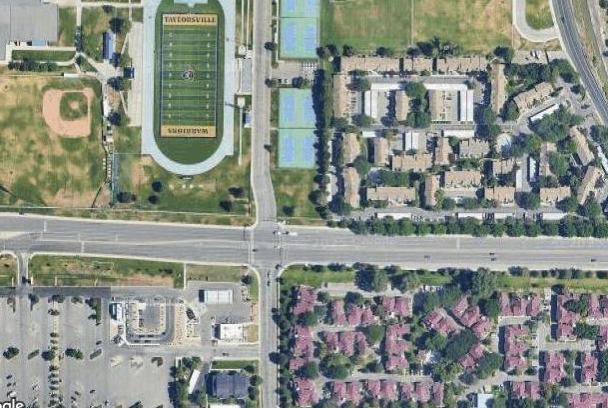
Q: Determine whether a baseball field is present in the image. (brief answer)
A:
Yes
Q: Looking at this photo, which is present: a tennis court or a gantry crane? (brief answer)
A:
tennis court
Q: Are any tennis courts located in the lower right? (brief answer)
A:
No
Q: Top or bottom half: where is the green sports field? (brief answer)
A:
top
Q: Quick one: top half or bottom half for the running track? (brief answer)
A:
top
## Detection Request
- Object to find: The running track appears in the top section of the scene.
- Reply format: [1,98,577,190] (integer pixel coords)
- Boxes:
[142,0,235,175]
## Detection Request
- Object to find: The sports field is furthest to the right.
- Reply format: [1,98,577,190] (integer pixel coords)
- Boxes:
[154,0,224,164]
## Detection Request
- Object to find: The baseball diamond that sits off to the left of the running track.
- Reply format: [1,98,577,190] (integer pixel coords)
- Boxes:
[43,88,94,138]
